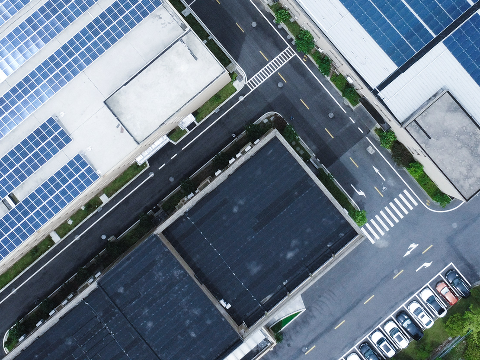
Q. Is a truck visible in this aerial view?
No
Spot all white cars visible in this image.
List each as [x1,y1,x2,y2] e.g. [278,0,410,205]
[409,299,437,331]
[372,332,401,360]
[348,354,363,360]
[421,290,449,321]
[384,321,412,352]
